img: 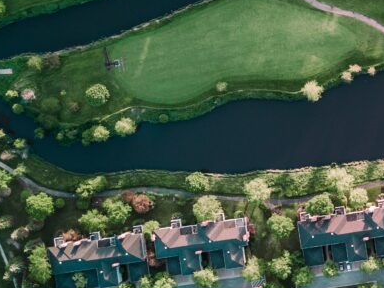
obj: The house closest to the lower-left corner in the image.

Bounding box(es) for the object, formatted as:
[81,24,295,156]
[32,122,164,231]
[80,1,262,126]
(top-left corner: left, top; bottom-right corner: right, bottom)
[48,223,156,286]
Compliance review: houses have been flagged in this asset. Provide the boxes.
[48,223,156,286]
[153,208,254,273]
[298,194,384,261]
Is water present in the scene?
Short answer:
Yes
